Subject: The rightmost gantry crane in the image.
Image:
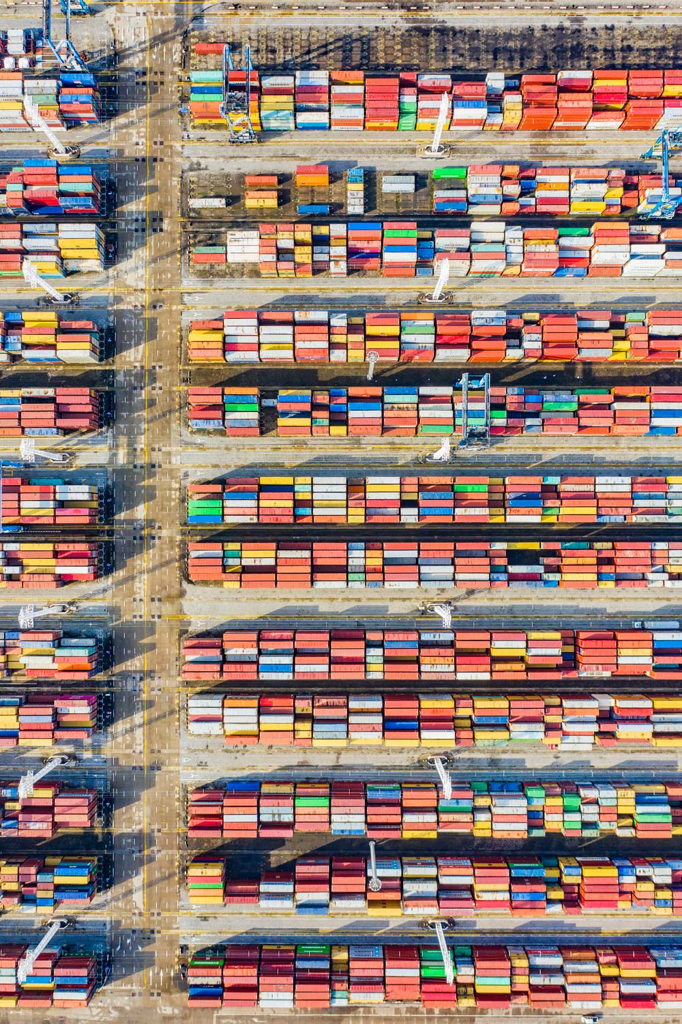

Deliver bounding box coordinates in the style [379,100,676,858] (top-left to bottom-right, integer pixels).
[641,124,682,220]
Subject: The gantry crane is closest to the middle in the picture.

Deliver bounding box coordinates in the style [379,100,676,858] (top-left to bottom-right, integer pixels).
[453,368,492,451]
